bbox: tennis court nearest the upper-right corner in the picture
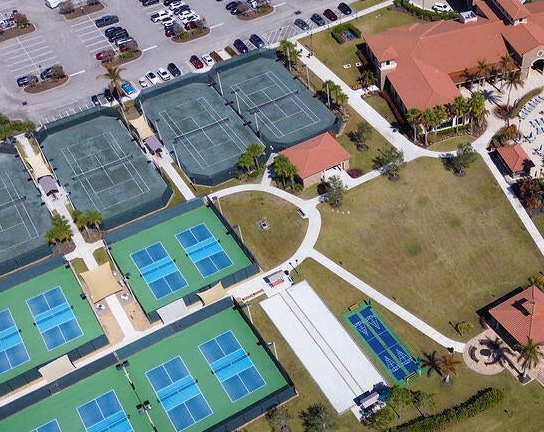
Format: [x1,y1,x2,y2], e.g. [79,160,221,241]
[214,59,337,149]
